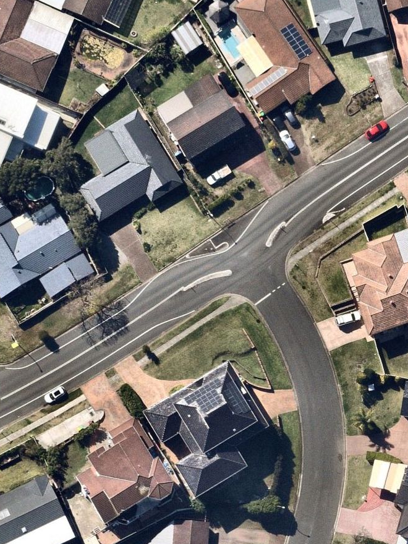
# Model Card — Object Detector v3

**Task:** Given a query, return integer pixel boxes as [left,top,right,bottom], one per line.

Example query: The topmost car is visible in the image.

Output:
[219,72,238,96]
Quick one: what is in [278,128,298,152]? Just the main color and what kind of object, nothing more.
white car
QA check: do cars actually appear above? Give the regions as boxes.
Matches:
[283,104,300,130]
[335,313,362,325]
[44,385,68,404]
[269,106,289,130]
[278,128,298,152]
[219,72,238,96]
[364,122,388,139]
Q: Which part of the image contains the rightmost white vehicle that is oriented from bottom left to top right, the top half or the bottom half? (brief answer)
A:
top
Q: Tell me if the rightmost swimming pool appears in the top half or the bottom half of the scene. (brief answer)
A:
top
